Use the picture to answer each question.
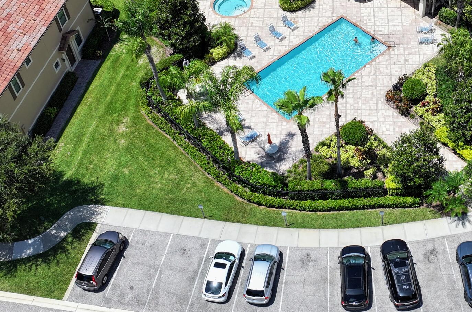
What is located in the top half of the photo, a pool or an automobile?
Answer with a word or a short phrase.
pool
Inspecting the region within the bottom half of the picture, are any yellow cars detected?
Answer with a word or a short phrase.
No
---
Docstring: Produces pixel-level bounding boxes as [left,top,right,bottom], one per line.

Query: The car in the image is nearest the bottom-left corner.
[73,229,127,294]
